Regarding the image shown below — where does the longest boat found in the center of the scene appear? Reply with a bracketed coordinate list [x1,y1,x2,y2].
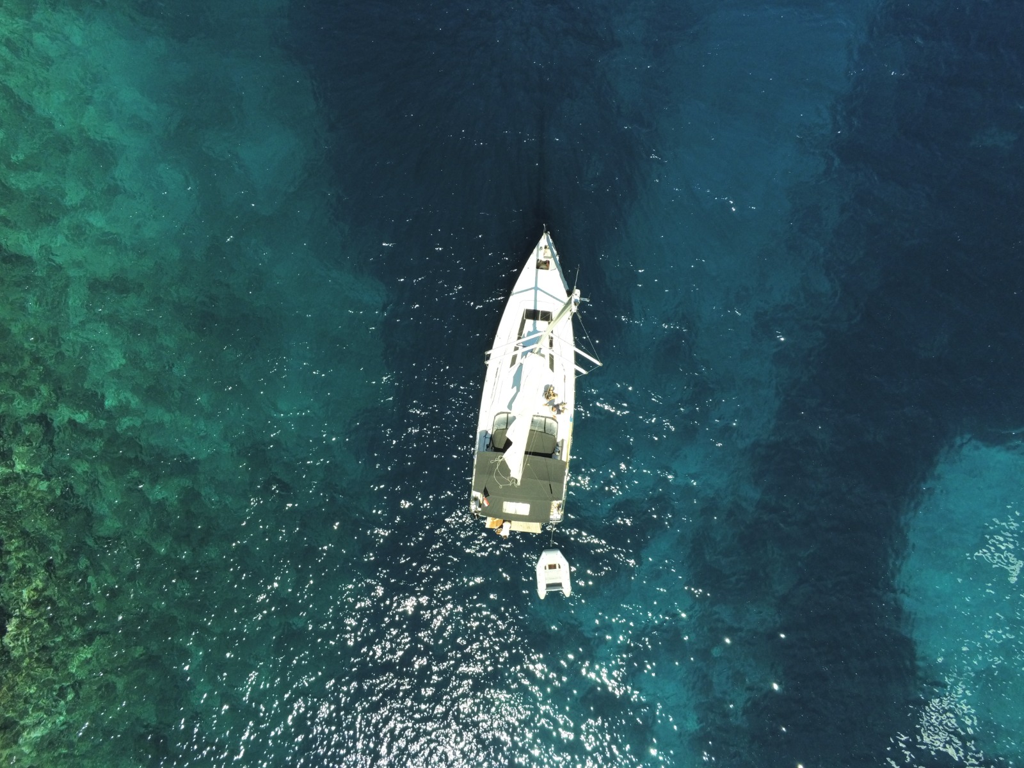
[471,224,604,534]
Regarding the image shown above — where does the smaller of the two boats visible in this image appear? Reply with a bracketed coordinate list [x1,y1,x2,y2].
[536,548,573,598]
